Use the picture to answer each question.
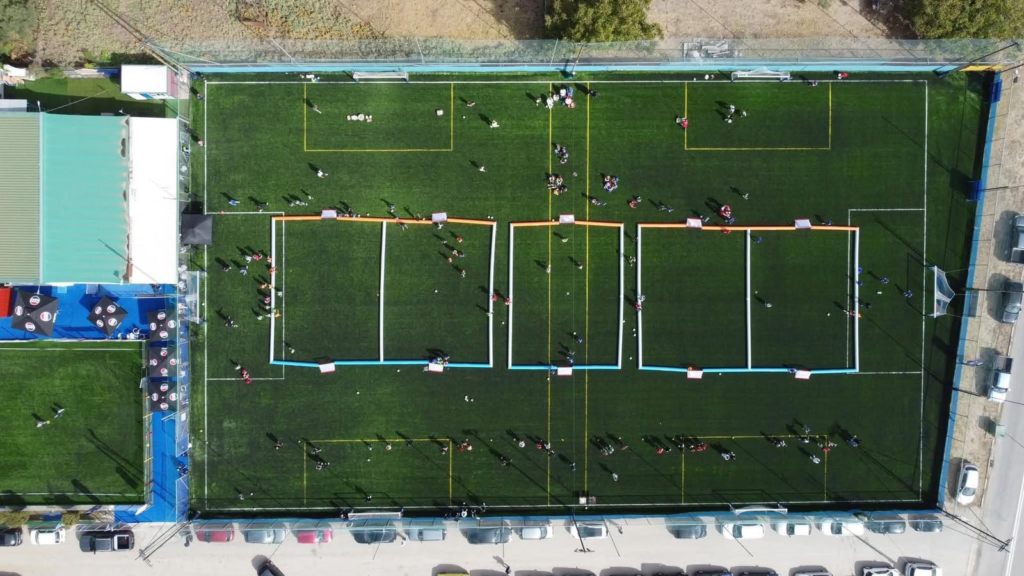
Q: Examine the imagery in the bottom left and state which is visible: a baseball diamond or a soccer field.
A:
soccer field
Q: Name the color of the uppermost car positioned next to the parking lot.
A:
white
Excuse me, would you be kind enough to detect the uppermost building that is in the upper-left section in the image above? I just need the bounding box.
[122,65,180,99]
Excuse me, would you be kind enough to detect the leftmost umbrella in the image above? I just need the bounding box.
[11,288,62,337]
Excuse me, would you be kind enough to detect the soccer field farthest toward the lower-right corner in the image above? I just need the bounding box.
[190,71,993,519]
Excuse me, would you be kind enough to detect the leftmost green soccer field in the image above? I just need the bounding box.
[0,341,152,506]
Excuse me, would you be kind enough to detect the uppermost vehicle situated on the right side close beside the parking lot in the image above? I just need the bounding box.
[953,460,979,504]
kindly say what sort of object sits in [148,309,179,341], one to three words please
umbrella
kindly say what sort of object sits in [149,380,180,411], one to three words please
umbrella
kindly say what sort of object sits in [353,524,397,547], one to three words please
car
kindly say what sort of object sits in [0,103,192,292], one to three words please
building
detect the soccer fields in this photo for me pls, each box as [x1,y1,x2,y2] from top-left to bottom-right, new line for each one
[0,341,152,506]
[190,71,993,519]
